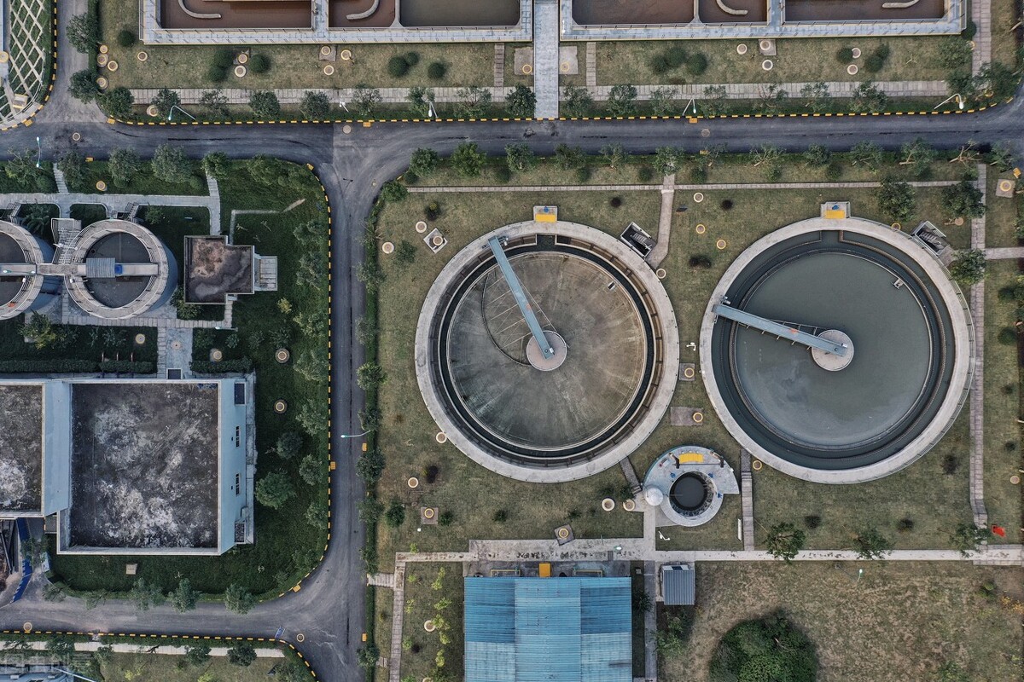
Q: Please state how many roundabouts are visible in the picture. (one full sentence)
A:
There are no roundabouts in the image.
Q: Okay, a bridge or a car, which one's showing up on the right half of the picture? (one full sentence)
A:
What appears on the right half of the picture is a bridge.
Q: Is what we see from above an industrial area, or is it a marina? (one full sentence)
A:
This looks like an industrial area.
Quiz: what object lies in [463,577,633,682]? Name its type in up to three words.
shed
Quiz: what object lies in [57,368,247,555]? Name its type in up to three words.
building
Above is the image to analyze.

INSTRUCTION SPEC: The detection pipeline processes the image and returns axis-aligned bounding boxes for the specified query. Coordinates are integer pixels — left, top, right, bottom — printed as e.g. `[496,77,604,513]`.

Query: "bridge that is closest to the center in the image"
[484,235,552,357]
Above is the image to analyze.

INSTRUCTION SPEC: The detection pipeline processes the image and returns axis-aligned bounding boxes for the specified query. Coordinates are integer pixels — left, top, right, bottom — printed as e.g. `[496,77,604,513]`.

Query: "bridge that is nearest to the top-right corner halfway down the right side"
[709,298,848,356]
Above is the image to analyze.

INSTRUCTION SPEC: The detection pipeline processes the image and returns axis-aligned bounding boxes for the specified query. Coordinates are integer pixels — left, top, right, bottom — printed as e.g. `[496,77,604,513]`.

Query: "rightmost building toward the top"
[185,235,259,305]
